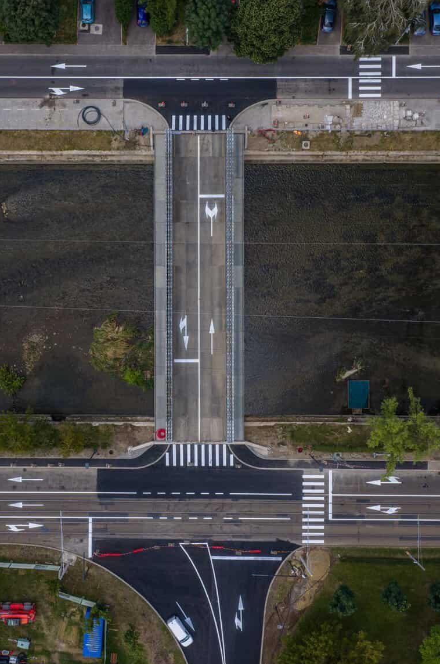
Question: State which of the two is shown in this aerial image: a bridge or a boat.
bridge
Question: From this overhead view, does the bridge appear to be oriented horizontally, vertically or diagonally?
vertically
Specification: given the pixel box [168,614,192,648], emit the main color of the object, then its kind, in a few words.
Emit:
white car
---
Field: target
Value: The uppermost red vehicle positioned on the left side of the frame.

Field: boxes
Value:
[0,604,34,628]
